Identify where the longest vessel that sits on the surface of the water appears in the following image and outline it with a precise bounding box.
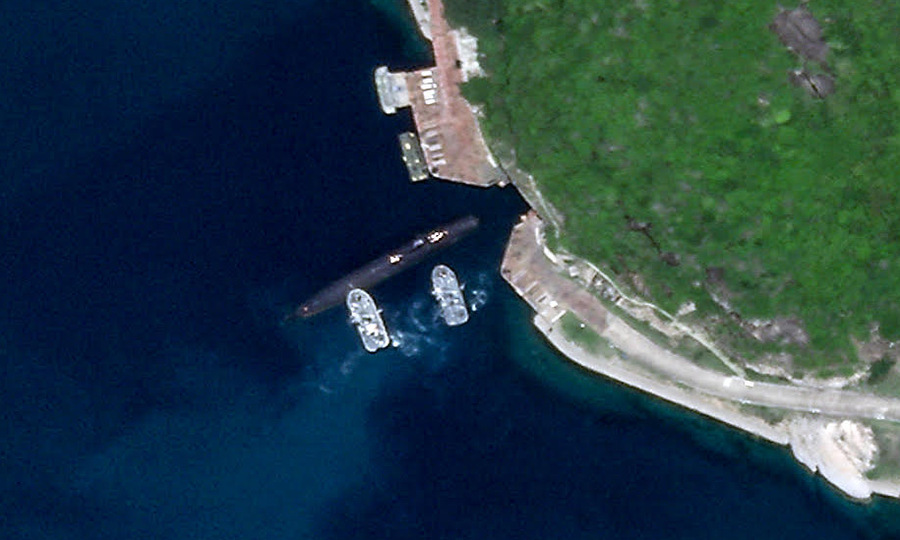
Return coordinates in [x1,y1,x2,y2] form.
[294,217,478,319]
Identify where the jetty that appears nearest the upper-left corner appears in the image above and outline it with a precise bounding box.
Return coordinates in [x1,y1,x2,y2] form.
[375,65,410,115]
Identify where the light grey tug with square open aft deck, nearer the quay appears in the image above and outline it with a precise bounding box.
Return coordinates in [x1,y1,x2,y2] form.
[432,265,468,328]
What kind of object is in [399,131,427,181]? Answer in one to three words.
ship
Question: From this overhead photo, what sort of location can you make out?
port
